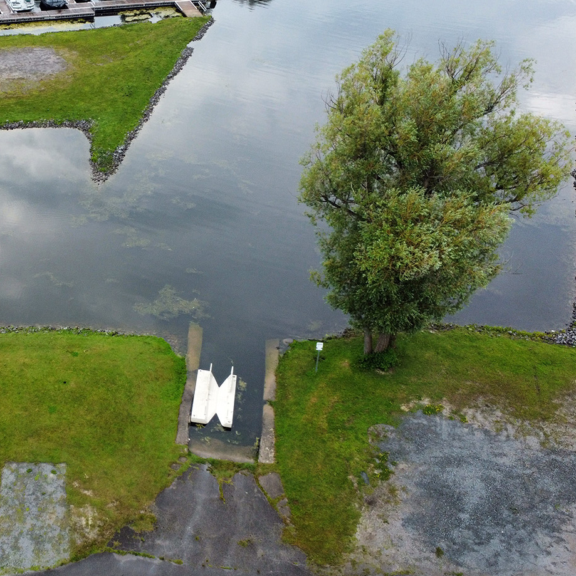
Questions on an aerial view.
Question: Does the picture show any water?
Yes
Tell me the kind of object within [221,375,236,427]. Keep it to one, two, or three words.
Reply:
pier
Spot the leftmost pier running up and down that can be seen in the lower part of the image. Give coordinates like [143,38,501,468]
[190,370,209,427]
